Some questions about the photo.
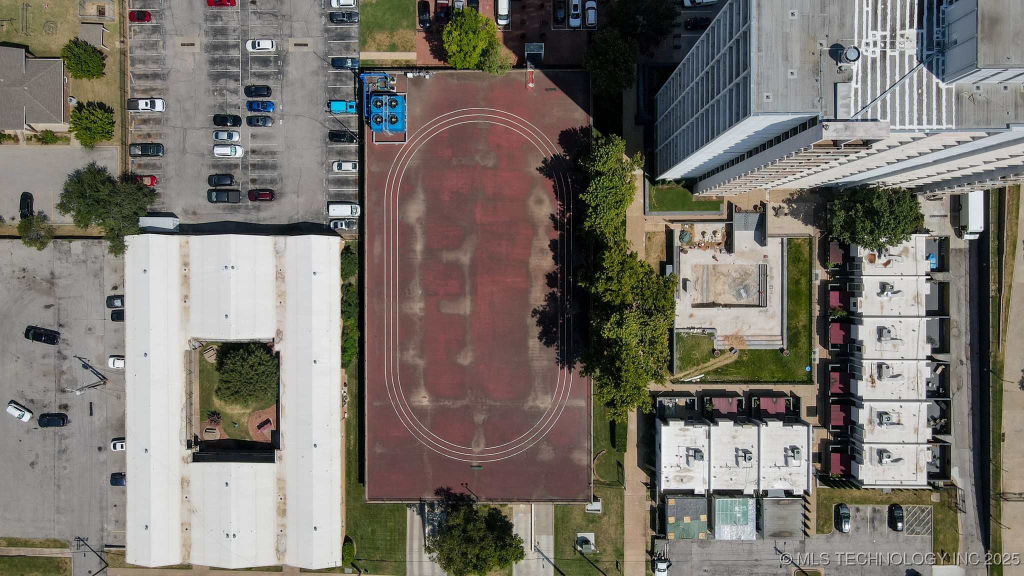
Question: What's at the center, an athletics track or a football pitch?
athletics track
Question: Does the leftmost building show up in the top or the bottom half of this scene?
top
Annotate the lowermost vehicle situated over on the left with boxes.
[112,472,127,486]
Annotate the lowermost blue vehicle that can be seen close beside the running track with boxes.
[328,100,358,113]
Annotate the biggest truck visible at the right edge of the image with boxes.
[958,190,988,238]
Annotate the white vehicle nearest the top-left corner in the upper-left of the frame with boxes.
[127,96,167,112]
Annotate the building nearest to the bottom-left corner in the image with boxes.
[124,235,349,566]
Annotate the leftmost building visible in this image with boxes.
[0,46,72,133]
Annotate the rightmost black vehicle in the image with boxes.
[890,503,904,530]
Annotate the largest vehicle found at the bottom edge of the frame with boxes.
[654,538,674,575]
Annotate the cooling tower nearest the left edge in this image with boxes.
[360,74,409,145]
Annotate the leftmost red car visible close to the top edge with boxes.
[130,10,154,23]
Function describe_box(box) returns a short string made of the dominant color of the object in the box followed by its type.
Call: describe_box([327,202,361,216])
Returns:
white vehicle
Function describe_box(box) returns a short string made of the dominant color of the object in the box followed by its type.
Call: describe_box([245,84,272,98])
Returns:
black car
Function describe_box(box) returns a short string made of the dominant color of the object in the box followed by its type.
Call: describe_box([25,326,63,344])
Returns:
black vehicle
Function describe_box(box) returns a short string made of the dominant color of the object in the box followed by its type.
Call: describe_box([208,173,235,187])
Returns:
black car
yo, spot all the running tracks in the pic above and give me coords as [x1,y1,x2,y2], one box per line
[364,69,592,503]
